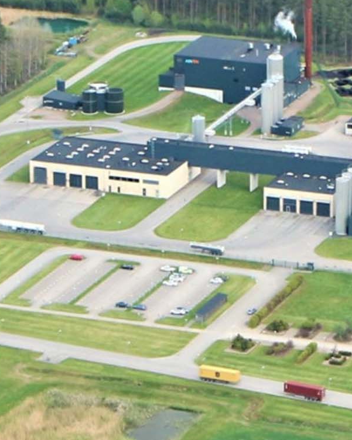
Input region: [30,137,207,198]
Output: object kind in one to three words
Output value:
building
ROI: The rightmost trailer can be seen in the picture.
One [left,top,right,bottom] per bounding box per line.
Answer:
[284,380,329,400]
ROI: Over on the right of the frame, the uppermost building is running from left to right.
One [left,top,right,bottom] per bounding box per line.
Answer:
[156,34,311,108]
